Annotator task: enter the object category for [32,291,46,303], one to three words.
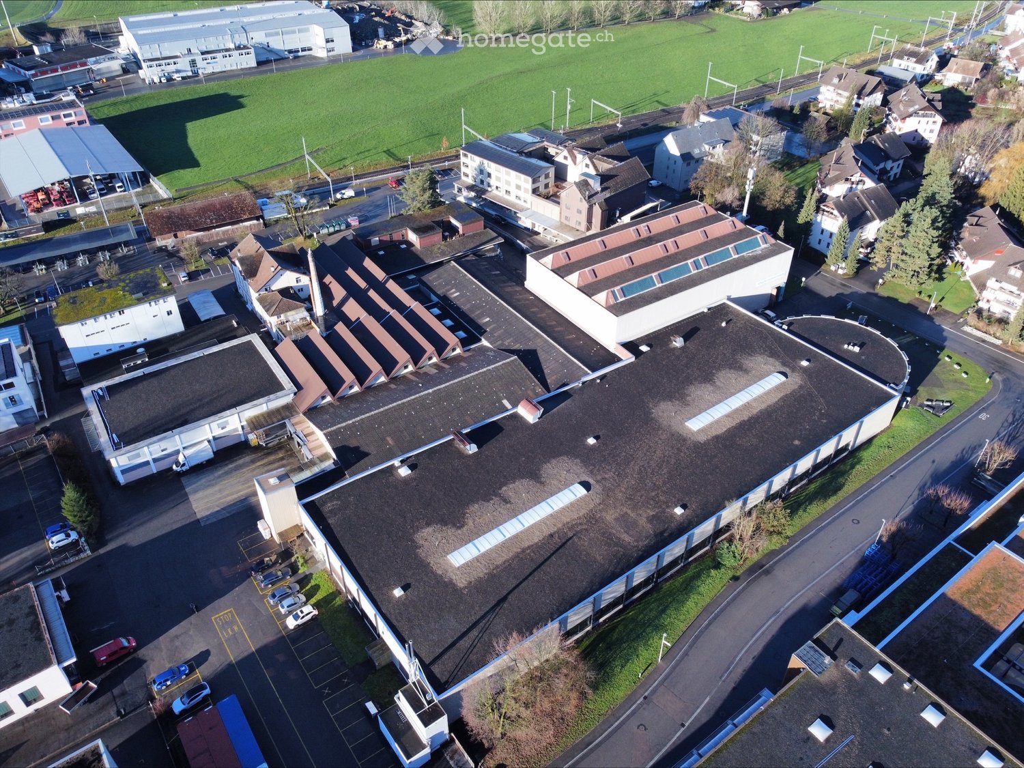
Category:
vehicle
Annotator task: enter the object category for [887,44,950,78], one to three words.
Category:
house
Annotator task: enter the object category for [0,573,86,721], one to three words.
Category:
building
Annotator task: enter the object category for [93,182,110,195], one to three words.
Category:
vehicle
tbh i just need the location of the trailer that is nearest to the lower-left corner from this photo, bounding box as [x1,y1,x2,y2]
[52,670,105,720]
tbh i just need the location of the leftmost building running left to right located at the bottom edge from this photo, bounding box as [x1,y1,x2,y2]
[38,737,114,768]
